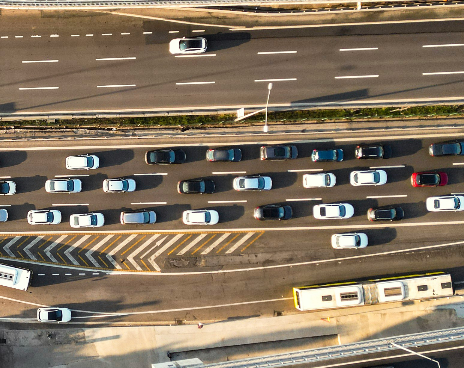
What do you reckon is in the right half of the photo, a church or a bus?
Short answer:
bus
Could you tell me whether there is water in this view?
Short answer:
No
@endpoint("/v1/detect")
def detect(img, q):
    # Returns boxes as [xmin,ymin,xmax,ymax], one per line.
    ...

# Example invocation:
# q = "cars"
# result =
[182,208,218,226]
[354,143,391,160]
[328,231,368,250]
[65,153,102,171]
[207,146,241,164]
[120,209,157,226]
[170,35,207,54]
[27,209,61,225]
[299,171,339,189]
[409,170,449,188]
[259,143,298,162]
[0,179,17,197]
[146,149,183,165]
[347,169,387,186]
[254,203,292,221]
[364,205,405,223]
[35,305,72,324]
[68,211,105,229]
[309,146,344,164]
[0,209,9,223]
[177,177,216,195]
[100,176,138,195]
[314,202,352,219]
[425,195,464,212]
[46,177,81,195]
[233,173,273,191]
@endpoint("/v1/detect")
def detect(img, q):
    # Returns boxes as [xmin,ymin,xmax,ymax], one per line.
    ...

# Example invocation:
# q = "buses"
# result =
[289,274,458,313]
[0,263,35,293]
